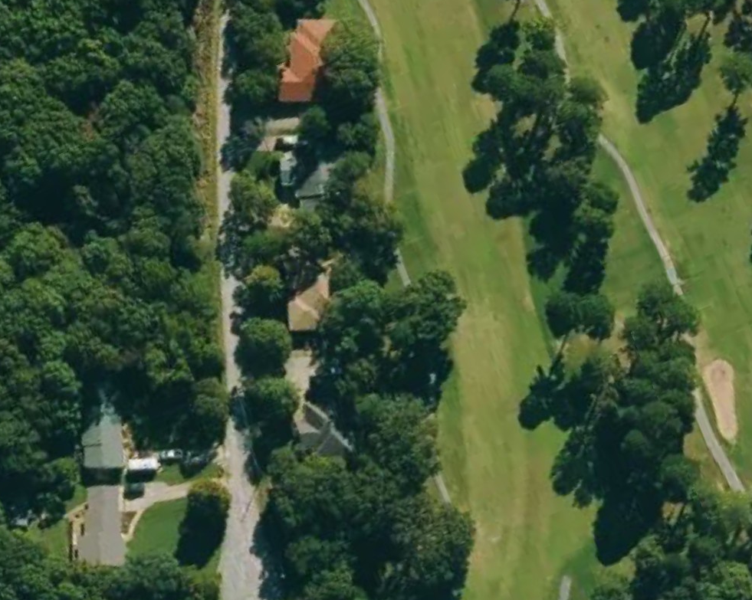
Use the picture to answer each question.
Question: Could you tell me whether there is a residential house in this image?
Yes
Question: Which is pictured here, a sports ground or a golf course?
golf course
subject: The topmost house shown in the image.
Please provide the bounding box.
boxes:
[279,13,340,104]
